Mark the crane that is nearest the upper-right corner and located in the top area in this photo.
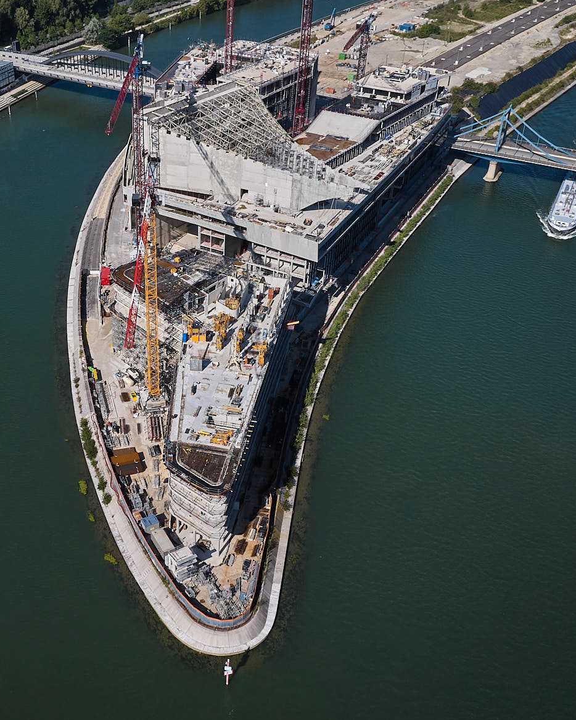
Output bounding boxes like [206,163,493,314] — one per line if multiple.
[340,8,370,83]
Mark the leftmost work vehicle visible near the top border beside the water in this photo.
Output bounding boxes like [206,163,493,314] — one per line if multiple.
[324,0,337,28]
